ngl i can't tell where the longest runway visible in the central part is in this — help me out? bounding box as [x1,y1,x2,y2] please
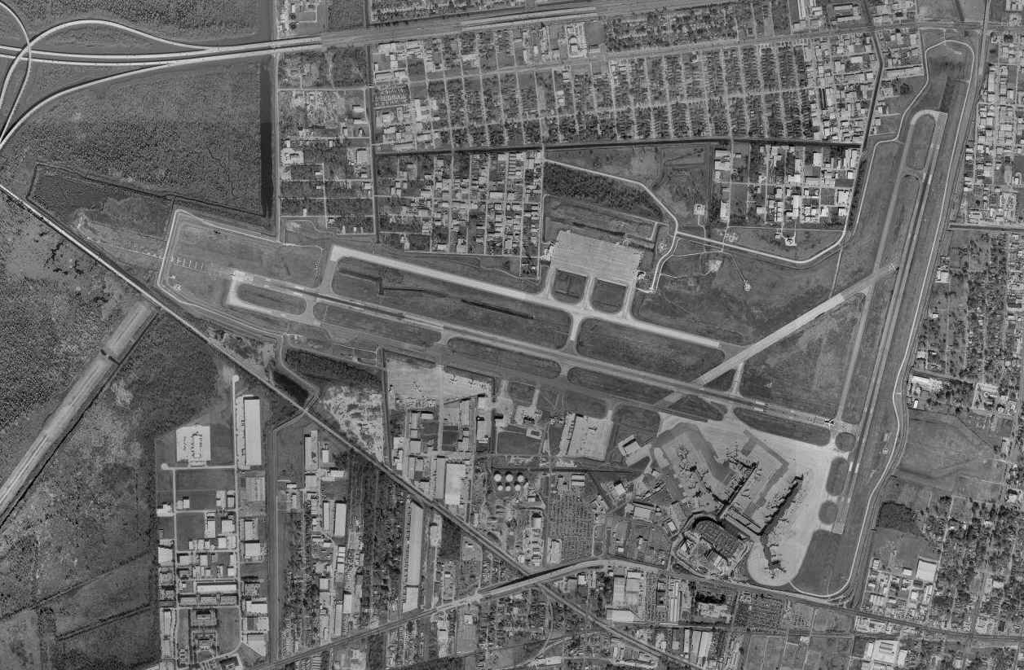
[231,269,859,433]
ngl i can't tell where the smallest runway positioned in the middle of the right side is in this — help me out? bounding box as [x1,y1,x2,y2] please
[650,262,898,413]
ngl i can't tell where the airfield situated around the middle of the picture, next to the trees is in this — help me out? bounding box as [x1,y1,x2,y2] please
[110,42,966,596]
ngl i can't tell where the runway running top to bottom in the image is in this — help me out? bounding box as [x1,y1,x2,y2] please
[832,111,948,534]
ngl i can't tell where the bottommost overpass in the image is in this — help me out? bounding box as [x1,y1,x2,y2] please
[478,563,575,599]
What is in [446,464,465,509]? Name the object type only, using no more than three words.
building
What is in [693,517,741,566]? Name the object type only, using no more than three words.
building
